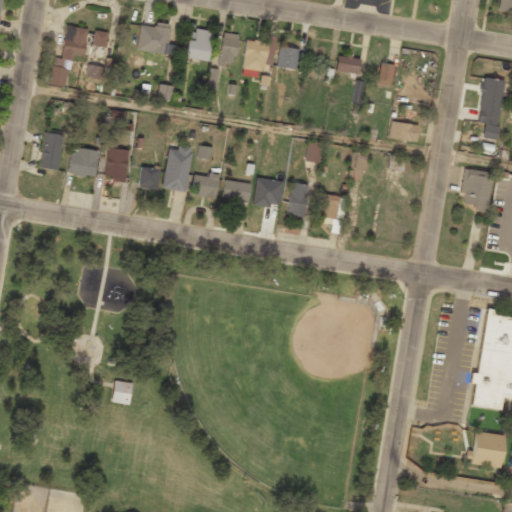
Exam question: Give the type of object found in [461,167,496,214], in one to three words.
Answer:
building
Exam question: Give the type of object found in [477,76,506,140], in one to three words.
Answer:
house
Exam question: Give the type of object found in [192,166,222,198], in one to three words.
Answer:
house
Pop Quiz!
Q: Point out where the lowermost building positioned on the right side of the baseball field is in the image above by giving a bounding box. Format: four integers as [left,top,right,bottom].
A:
[468,432,506,468]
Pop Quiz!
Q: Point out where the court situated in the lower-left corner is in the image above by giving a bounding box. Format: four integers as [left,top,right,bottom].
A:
[14,486,84,512]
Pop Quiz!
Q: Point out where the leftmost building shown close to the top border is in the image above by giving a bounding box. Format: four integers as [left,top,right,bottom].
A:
[50,22,89,88]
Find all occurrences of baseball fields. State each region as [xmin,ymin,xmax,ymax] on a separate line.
[174,273,376,508]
